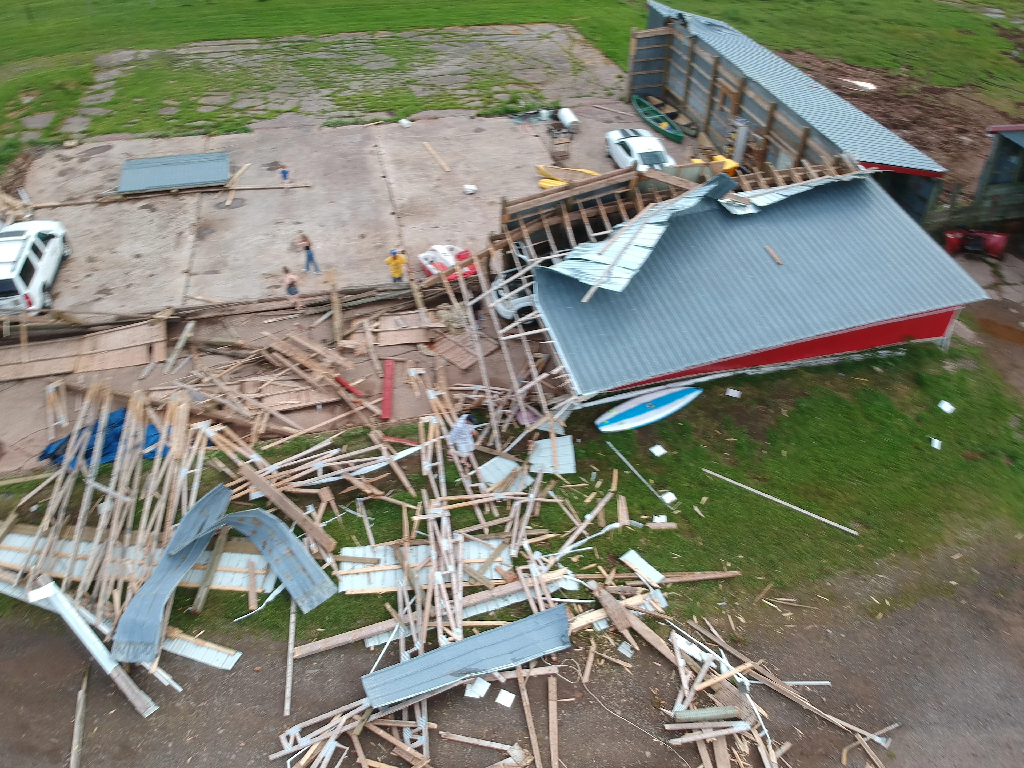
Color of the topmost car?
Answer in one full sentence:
The color of the topmost car is white.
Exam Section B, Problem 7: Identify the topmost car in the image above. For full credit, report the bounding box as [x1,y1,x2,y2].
[609,129,686,178]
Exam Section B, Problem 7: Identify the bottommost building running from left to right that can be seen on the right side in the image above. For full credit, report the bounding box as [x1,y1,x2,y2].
[421,152,989,449]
